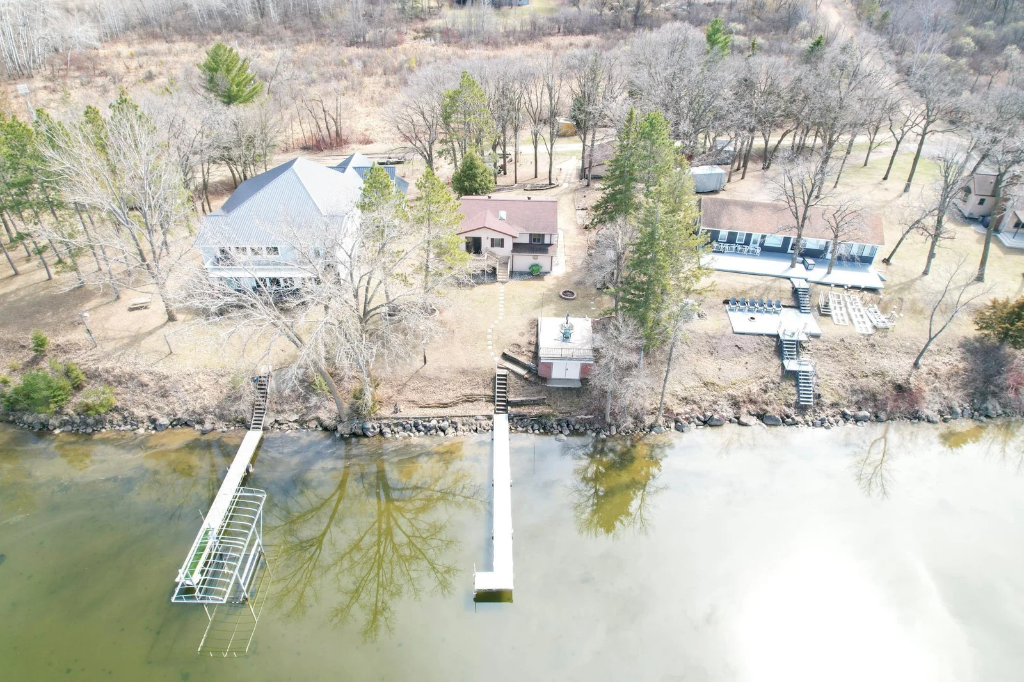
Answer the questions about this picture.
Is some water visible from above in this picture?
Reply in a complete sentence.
Yes, some water is visible.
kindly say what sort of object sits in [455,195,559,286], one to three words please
house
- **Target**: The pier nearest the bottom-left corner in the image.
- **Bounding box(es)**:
[172,431,264,590]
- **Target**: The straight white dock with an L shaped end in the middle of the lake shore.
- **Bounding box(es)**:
[472,414,515,596]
